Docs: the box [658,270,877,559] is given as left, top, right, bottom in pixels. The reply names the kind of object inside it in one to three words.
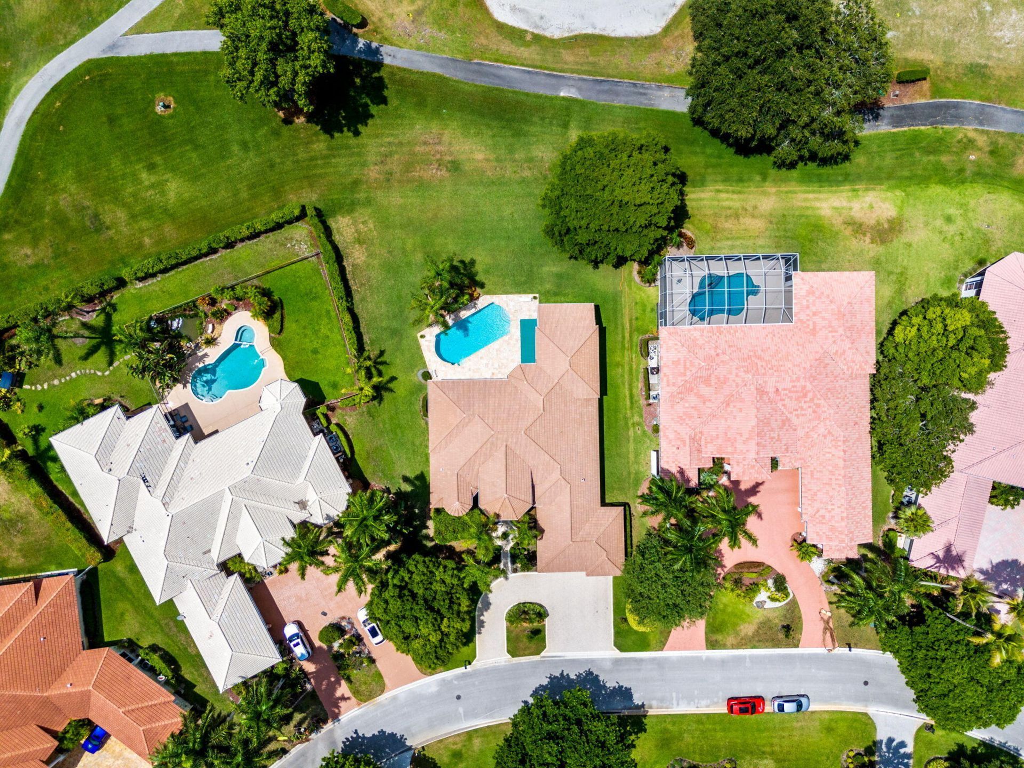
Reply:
house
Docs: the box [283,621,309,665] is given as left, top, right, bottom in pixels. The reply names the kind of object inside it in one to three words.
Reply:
car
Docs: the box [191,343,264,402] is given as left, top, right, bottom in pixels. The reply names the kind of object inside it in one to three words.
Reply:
swimming pool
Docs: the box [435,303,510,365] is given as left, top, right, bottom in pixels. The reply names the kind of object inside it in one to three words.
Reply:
swimming pool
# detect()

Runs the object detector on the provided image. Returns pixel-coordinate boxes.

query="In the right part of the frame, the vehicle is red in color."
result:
[726,695,765,715]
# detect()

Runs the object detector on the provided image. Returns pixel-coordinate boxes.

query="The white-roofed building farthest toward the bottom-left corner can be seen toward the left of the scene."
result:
[47,375,348,694]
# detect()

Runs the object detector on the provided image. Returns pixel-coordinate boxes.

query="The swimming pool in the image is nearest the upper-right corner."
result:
[689,273,761,322]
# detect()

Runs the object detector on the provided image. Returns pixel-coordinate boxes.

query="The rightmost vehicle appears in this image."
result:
[770,694,810,714]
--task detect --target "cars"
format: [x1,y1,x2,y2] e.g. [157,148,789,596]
[75,724,106,761]
[283,621,309,665]
[770,694,810,714]
[354,606,382,648]
[726,695,765,715]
